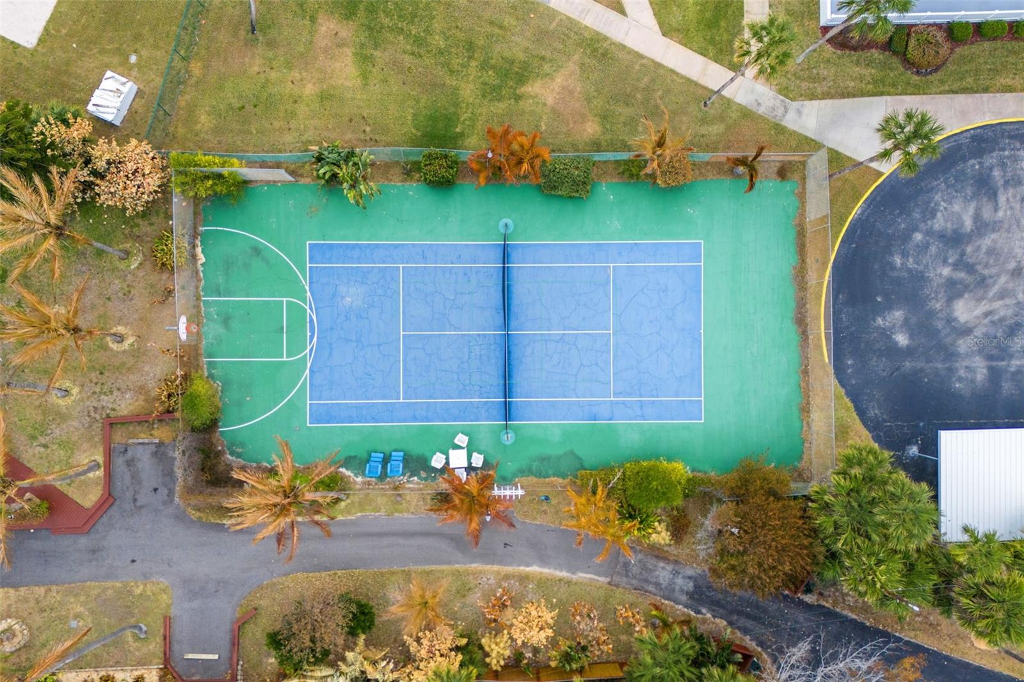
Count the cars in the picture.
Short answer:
none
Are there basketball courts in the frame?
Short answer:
Yes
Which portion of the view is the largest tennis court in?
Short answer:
center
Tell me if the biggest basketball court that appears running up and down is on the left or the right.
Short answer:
left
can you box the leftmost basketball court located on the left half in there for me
[200,183,316,465]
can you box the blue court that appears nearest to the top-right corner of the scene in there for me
[307,179,806,484]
